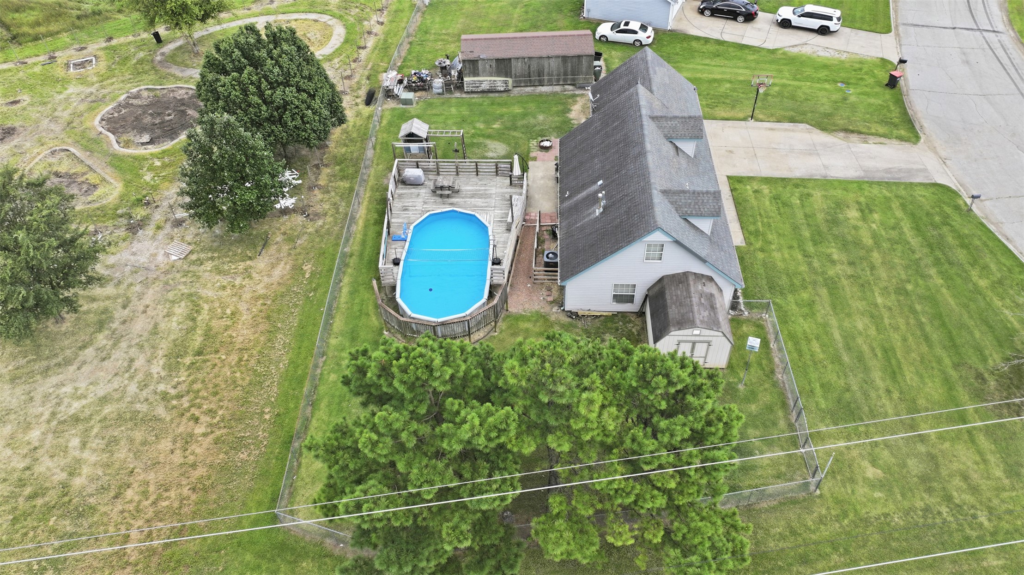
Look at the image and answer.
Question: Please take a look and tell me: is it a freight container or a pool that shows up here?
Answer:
pool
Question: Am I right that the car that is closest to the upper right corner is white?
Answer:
Yes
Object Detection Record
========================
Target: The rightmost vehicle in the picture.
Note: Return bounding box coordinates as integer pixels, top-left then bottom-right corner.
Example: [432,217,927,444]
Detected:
[774,2,843,34]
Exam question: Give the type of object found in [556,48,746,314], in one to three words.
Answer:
house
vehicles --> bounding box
[697,0,760,22]
[774,2,843,34]
[594,19,654,45]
